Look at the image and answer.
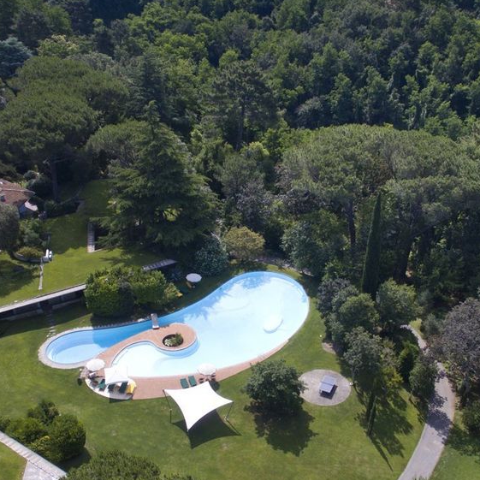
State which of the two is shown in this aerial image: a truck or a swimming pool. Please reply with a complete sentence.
Of the two, only a swimming pool appears.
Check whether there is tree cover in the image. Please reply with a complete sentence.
Yes, the picture does contain tree cover.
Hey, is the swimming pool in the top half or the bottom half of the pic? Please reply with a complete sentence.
The swimming pool is in the bottom half of the image.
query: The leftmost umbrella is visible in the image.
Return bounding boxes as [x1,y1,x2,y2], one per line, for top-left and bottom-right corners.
[82,357,108,384]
